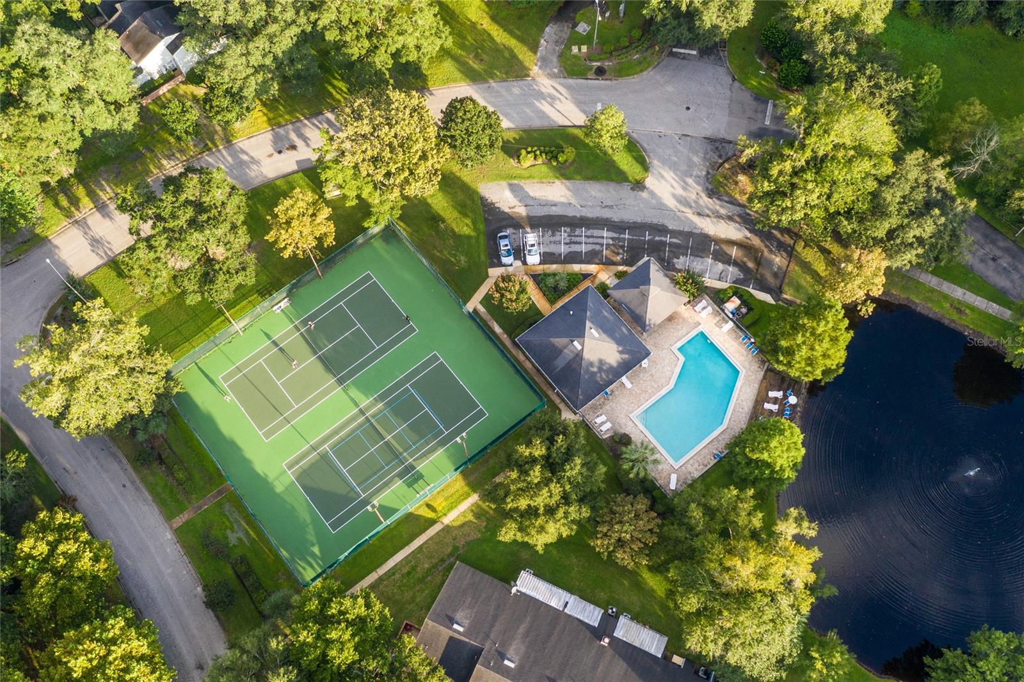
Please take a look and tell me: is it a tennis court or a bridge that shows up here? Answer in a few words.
tennis court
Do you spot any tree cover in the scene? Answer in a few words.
Yes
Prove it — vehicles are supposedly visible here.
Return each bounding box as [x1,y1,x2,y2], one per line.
[524,230,541,263]
[498,229,515,264]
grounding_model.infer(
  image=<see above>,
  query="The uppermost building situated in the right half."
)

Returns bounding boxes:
[606,258,690,334]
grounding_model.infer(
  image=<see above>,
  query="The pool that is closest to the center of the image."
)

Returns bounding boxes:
[629,327,745,469]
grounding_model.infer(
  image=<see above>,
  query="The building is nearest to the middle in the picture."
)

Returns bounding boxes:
[516,285,653,412]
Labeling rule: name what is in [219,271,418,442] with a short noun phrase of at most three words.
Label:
tennis court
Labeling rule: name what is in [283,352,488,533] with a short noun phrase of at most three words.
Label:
tennis court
